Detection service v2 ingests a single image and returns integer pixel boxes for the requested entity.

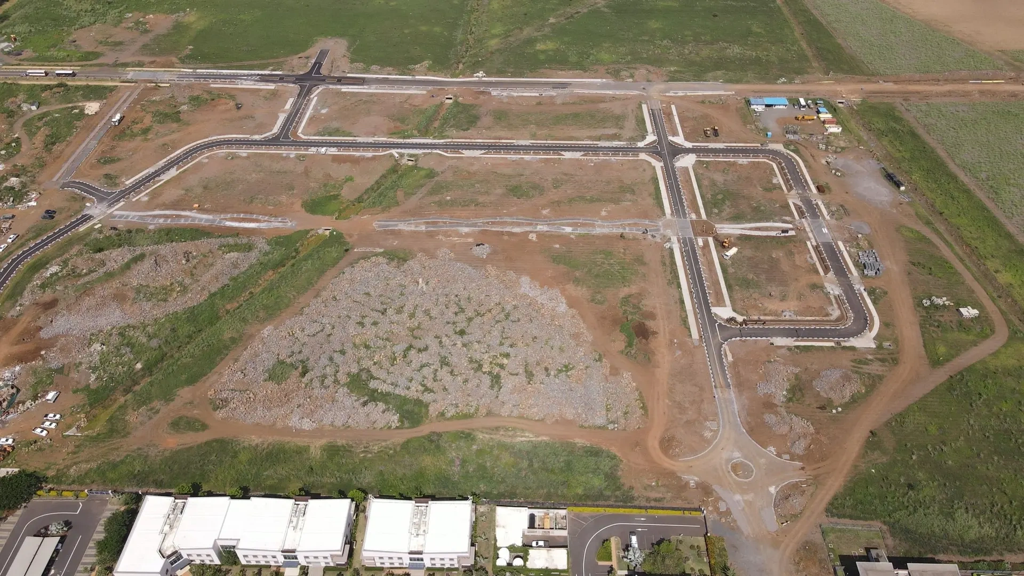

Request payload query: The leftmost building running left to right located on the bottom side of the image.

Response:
[113,495,357,576]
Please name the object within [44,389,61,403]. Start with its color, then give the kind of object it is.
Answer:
white vehicle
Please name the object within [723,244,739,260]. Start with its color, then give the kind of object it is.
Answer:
white vehicle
